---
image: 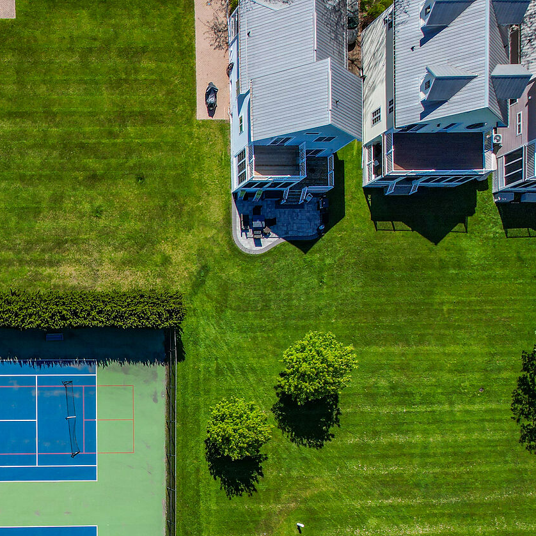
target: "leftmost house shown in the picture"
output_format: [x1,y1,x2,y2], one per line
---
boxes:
[221,0,362,206]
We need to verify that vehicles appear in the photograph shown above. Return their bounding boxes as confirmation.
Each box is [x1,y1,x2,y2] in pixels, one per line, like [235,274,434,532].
[345,0,363,47]
[209,82,224,108]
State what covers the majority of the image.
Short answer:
grass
